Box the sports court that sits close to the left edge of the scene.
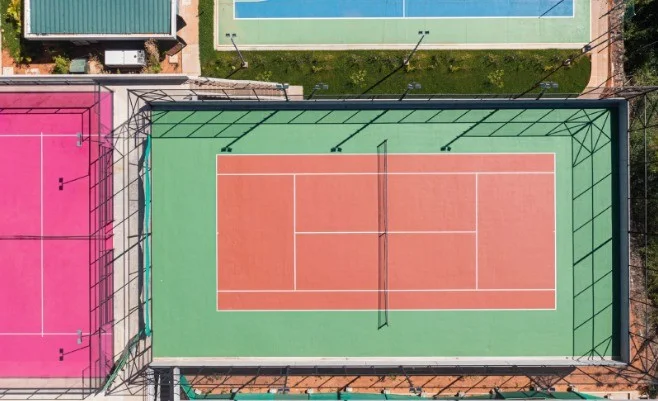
[0,92,113,378]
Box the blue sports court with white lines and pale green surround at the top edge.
[214,0,592,50]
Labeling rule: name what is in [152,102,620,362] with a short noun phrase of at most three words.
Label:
tennis court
